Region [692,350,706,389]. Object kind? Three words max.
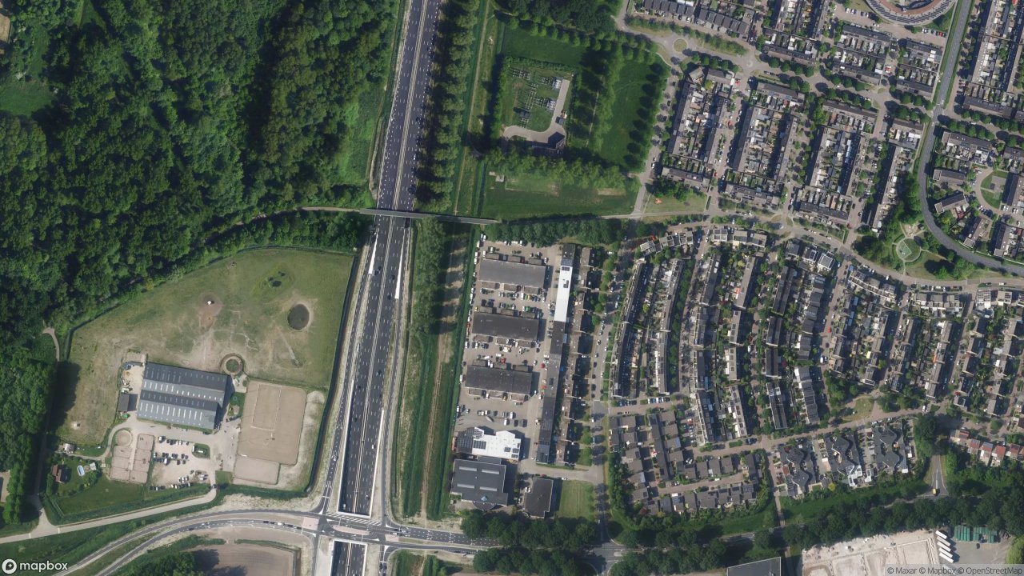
building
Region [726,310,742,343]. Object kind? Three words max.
building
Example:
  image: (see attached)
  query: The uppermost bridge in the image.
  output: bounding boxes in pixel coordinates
[352,206,504,223]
